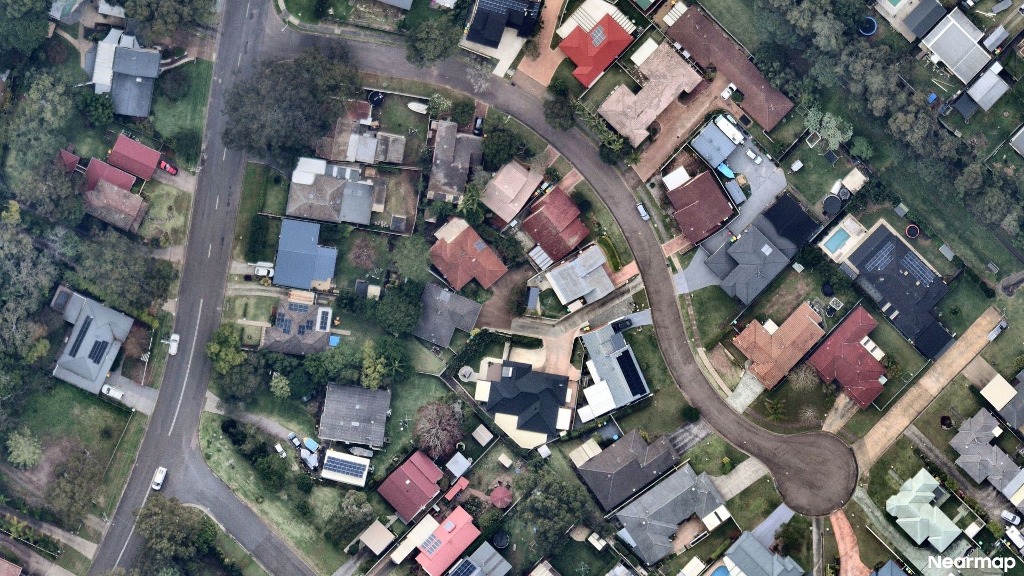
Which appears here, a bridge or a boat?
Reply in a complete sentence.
The one in the frame is a boat.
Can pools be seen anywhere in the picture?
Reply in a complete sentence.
Yes, the picture does show a pool.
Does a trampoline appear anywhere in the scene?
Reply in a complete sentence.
Yes, I can see a trampoline in this picture.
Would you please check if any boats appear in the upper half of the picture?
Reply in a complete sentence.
Yes, the scene does show a boat in the upper half of the picture.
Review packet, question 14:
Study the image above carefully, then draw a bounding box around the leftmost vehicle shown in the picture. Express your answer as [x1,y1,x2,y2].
[101,385,124,400]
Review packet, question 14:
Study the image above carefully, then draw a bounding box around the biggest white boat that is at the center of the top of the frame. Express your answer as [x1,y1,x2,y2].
[405,102,428,114]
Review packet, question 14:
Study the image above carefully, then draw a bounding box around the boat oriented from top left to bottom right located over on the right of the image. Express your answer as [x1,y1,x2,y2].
[716,164,737,180]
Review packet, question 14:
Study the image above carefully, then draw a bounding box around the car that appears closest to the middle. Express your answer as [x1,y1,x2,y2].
[614,319,633,331]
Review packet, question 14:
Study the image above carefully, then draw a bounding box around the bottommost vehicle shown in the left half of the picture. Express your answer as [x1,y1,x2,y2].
[152,467,166,490]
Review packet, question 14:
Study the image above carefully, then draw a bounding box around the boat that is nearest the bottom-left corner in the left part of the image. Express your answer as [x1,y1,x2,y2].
[302,438,319,454]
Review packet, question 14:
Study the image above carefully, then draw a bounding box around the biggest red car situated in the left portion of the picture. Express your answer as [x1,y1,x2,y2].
[159,161,177,175]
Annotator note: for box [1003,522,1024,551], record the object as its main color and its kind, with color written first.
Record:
white camper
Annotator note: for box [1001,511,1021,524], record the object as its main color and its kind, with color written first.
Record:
white vehicle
